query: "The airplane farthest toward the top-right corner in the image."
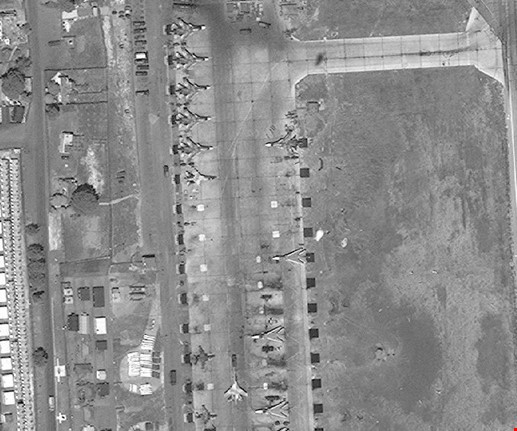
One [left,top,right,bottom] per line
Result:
[267,132,299,153]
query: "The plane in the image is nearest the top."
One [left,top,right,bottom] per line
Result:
[172,18,204,39]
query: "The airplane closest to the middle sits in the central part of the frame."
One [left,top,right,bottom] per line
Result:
[274,248,307,264]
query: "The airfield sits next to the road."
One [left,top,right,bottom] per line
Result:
[172,0,517,431]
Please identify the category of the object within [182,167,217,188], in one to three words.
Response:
airplane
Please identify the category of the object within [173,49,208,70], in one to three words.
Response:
airplane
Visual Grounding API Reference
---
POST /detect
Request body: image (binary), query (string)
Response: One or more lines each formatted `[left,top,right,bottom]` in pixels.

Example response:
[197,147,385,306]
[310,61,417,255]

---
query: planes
[173,49,208,70]
[175,78,208,99]
[267,132,299,153]
[172,18,204,39]
[182,167,217,188]
[274,248,307,264]
[192,346,216,367]
[195,405,219,426]
[177,109,212,129]
[179,138,212,159]
[253,327,286,343]
[255,403,289,419]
